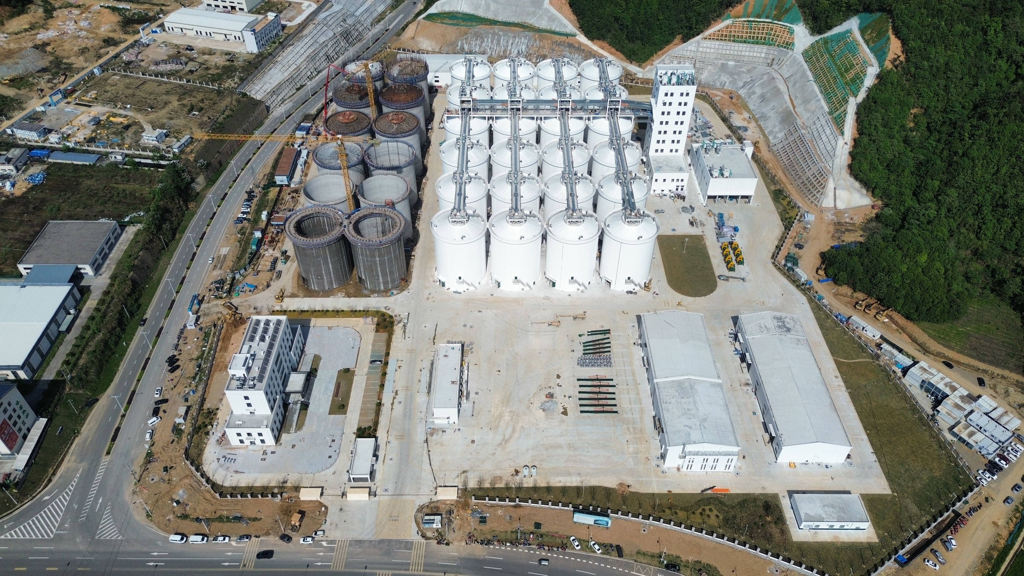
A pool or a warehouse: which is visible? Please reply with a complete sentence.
This aerial view contains a warehouse.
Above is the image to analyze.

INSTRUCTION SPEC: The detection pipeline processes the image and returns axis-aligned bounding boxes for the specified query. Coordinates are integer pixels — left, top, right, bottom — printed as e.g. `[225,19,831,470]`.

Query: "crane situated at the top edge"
[344,25,427,134]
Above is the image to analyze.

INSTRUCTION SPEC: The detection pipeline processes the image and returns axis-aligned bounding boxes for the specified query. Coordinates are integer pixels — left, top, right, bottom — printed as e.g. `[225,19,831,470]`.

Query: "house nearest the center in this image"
[428,344,463,423]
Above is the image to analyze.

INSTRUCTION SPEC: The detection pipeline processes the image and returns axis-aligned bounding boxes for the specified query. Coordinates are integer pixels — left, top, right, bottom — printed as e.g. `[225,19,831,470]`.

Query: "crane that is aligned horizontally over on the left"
[192,131,376,215]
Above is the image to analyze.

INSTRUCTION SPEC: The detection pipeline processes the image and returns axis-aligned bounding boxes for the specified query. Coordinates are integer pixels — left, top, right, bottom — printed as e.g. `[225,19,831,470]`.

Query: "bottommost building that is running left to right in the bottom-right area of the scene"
[792,495,869,530]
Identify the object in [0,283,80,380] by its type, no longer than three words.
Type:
building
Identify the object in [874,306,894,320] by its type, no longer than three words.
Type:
work vehicle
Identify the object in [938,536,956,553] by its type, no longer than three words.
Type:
vehicle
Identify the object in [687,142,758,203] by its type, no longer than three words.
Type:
house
